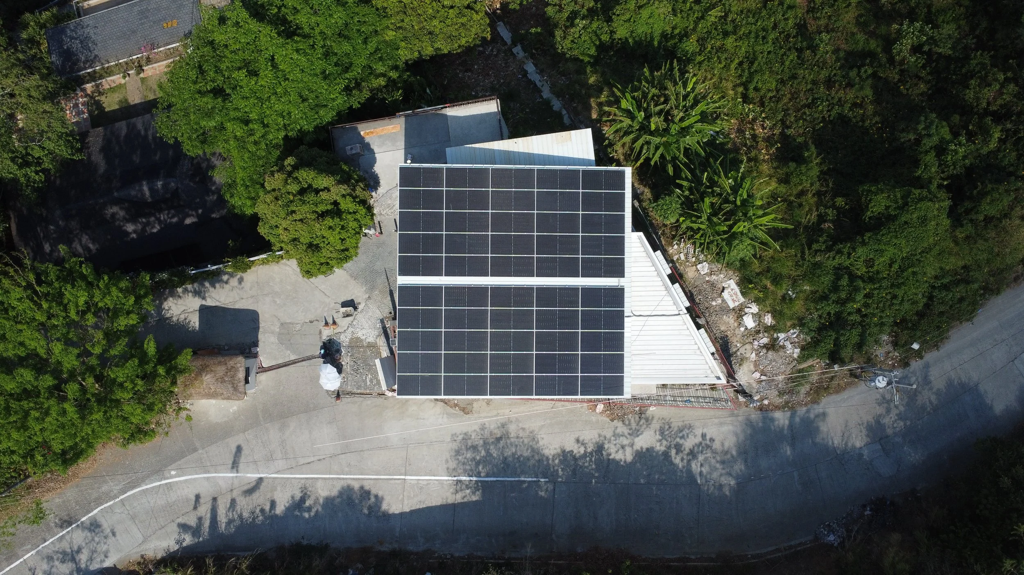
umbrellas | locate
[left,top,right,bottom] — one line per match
[316,363,338,386]
[320,376,342,395]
